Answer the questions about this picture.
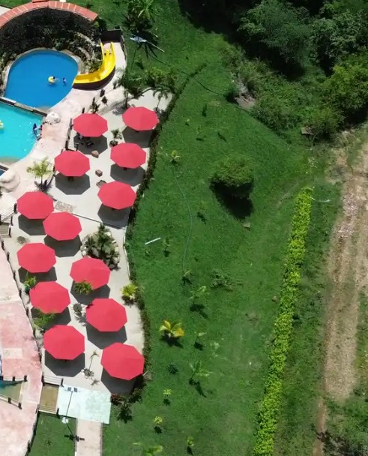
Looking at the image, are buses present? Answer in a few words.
No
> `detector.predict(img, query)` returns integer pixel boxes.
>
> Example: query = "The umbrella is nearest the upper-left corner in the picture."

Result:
[73,114,108,138]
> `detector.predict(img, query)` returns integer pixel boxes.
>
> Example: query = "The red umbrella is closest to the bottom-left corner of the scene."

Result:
[42,326,84,361]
